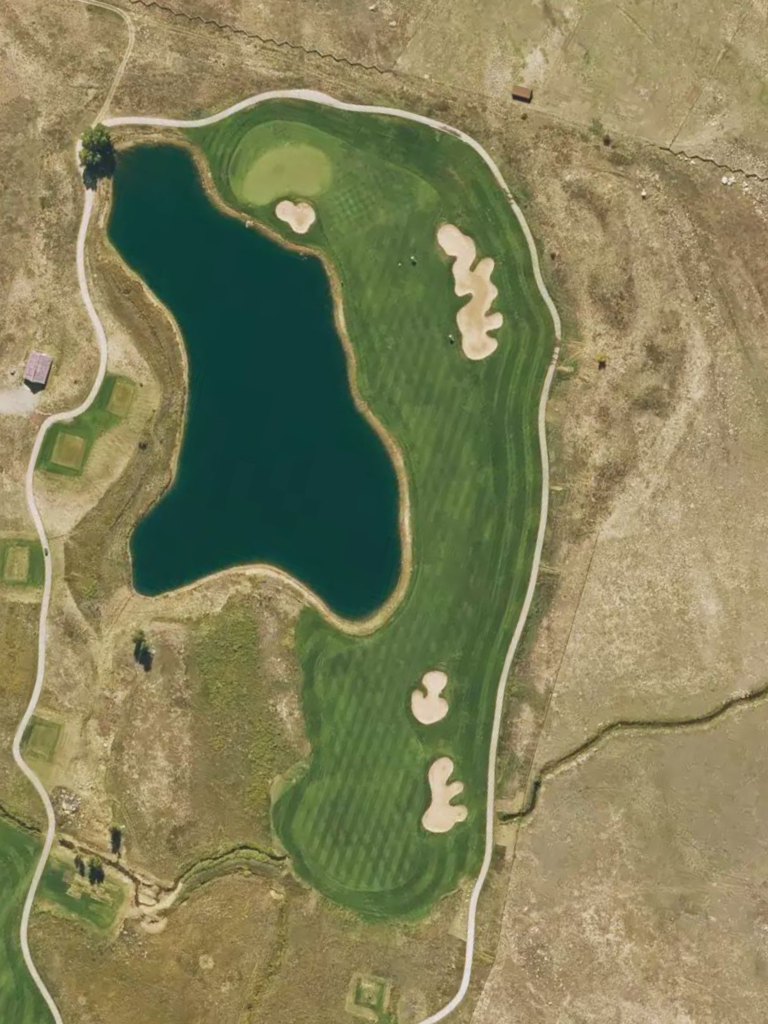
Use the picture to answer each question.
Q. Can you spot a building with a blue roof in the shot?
No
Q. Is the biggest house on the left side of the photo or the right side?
left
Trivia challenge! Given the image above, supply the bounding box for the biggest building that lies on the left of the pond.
[22,350,52,385]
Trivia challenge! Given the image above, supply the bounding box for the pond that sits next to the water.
[107,143,401,620]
